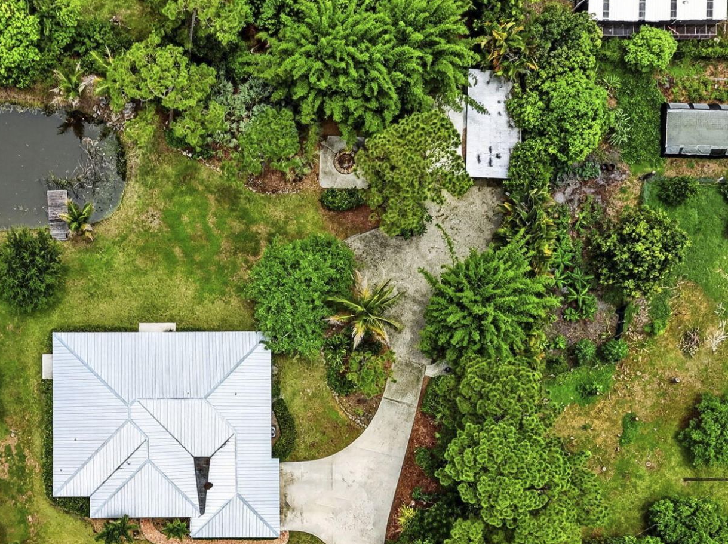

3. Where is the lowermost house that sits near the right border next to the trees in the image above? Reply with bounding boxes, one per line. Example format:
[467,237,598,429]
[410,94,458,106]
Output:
[644,102,728,163]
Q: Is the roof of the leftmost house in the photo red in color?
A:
No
